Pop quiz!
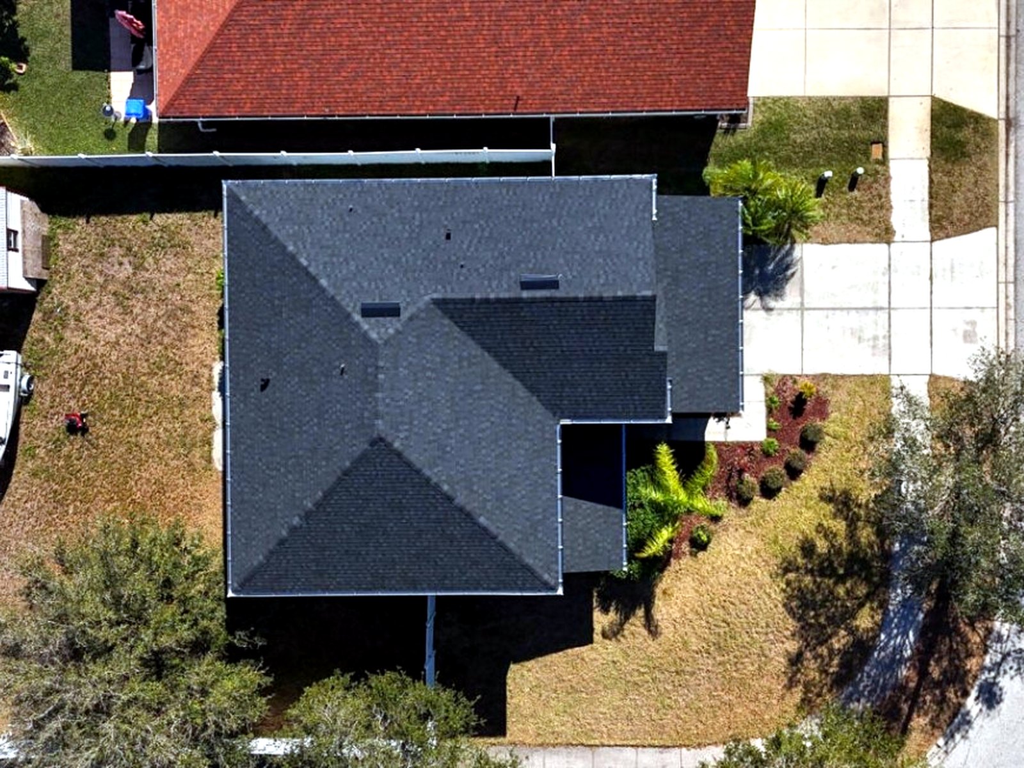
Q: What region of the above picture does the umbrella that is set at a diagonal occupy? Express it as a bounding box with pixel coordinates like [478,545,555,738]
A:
[110,14,155,48]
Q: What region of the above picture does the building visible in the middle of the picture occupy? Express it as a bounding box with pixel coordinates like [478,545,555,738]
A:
[224,175,744,598]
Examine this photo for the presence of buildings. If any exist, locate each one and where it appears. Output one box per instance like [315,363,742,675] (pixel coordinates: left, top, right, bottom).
[154,0,758,131]
[0,186,38,296]
[224,175,744,598]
